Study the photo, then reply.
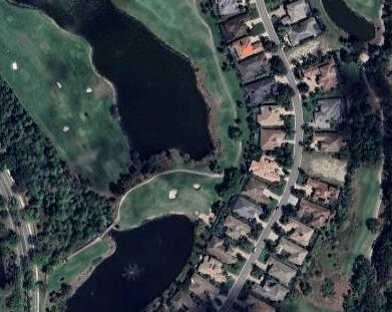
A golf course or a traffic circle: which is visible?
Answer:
golf course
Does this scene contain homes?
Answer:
Yes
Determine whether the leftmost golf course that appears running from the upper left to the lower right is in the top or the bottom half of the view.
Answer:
top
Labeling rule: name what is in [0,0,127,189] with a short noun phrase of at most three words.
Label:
golf course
